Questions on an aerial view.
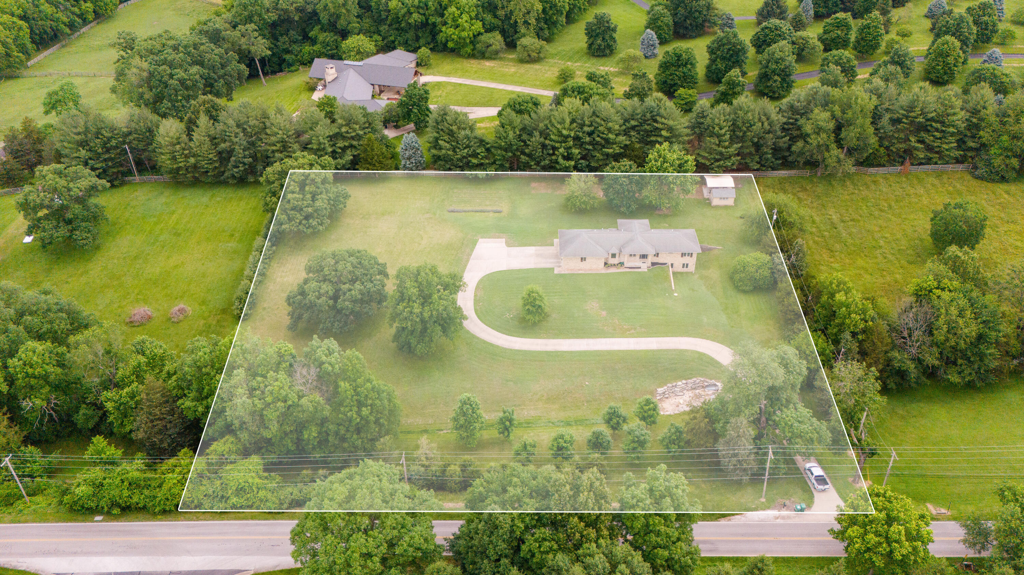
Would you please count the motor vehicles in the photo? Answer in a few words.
1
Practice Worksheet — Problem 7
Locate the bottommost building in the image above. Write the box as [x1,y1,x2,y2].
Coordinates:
[557,219,702,274]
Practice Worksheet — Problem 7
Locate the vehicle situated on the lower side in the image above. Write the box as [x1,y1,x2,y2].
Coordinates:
[804,461,830,491]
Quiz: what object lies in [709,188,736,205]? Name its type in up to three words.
shed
